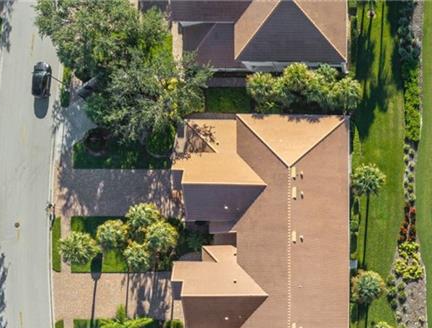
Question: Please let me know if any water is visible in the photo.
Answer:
No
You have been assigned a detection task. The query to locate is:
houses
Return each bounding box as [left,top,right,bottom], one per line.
[167,0,348,75]
[172,114,350,328]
